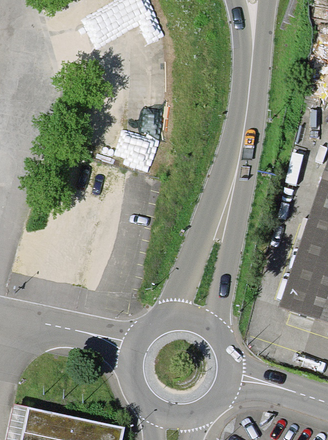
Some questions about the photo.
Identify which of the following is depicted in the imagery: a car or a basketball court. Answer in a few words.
car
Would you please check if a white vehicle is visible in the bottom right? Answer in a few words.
Yes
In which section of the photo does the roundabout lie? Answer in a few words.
bottom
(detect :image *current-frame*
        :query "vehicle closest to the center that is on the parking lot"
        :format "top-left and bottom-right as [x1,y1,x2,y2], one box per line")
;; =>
[130,214,150,226]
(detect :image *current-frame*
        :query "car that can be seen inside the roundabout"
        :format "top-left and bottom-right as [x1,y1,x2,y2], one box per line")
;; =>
[226,344,243,363]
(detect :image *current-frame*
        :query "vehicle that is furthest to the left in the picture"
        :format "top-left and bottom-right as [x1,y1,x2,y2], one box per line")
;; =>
[78,164,92,190]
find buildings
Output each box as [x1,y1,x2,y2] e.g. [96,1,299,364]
[22,407,124,440]
[280,172,328,322]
